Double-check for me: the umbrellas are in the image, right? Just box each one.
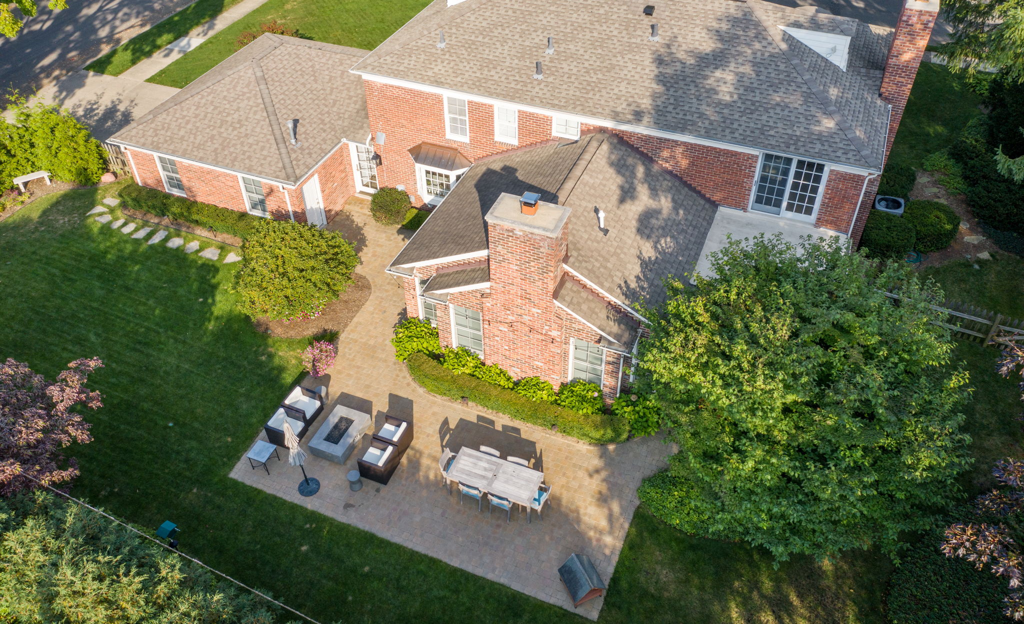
[285,417,321,496]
